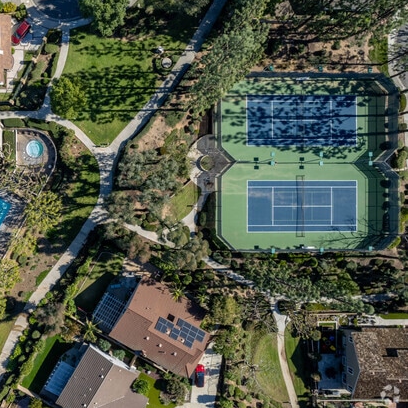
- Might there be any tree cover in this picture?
Yes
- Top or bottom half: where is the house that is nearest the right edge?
bottom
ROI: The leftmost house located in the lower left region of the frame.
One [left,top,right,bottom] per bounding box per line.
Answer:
[49,340,150,408]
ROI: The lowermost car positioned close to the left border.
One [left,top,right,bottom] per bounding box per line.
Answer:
[13,21,32,46]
